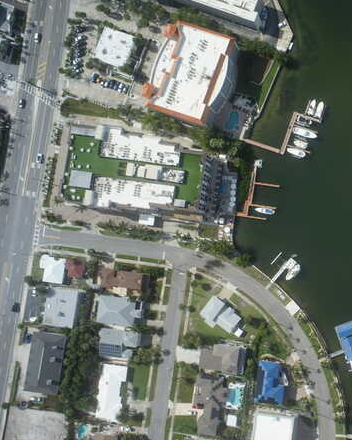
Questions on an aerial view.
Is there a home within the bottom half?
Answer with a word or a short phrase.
Yes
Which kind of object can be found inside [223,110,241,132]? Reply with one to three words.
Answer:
swimming pool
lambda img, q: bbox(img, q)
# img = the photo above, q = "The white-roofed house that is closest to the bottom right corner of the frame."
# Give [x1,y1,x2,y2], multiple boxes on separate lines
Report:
[253,411,296,440]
